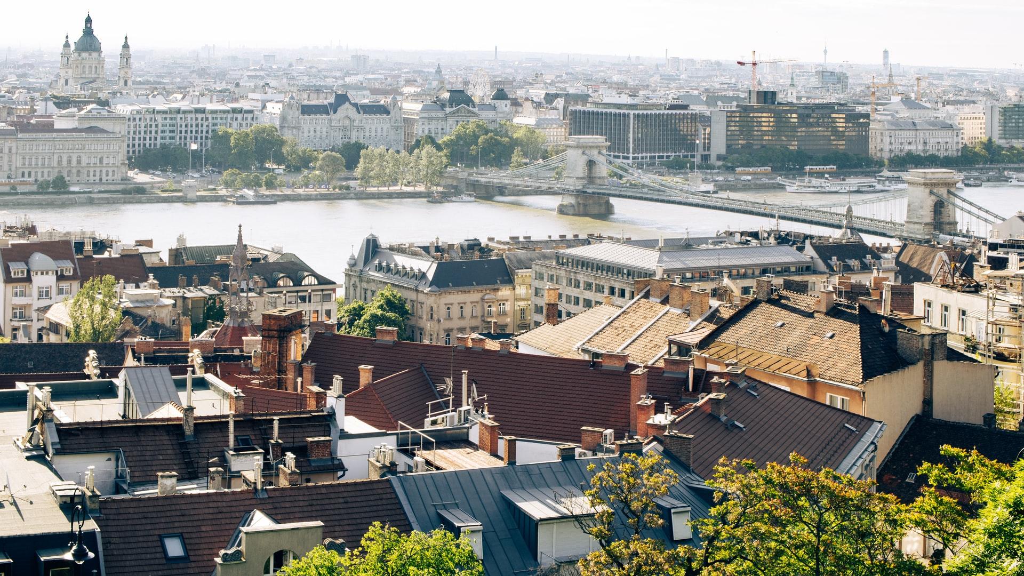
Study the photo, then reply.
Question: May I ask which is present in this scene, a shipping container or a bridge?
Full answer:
The image shows a bridge.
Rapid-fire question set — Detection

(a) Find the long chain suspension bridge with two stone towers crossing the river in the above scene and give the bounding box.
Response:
[433,135,1011,252]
